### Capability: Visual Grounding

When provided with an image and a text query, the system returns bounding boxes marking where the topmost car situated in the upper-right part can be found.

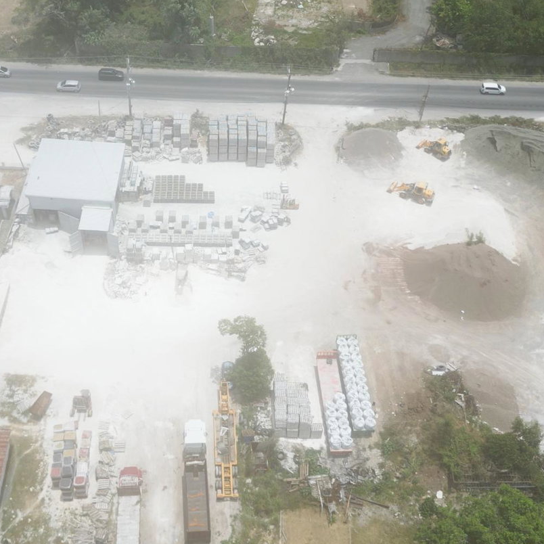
[480,82,506,96]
